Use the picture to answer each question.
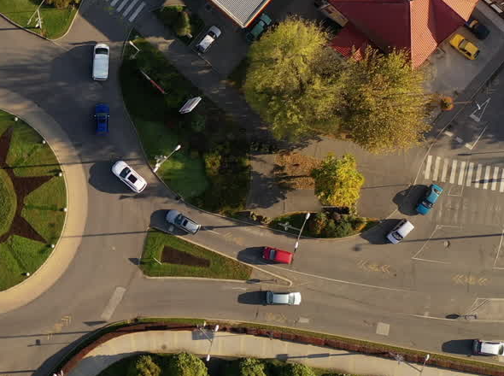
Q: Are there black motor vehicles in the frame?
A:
Yes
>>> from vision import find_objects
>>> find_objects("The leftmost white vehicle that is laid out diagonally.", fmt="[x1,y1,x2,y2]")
[112,161,148,193]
